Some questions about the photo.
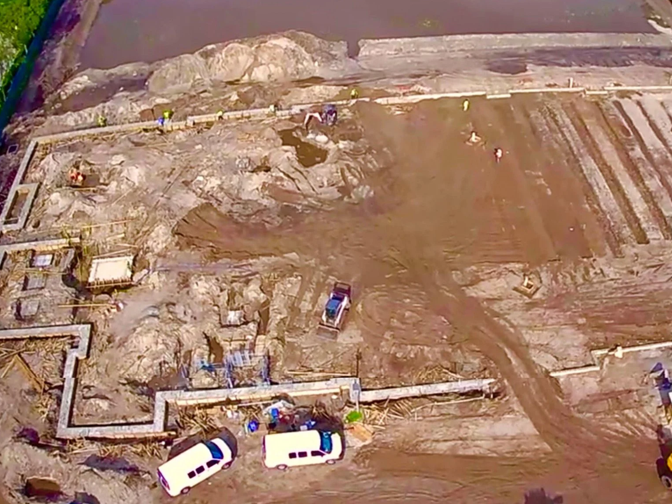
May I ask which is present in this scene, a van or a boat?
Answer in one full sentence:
Looking from above, you can make out a van.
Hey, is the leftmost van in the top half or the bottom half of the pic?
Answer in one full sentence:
The leftmost van sits in the bottom half of the picture.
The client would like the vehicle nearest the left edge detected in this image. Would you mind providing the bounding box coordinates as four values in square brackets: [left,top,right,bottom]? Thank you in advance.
[151,443,242,504]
